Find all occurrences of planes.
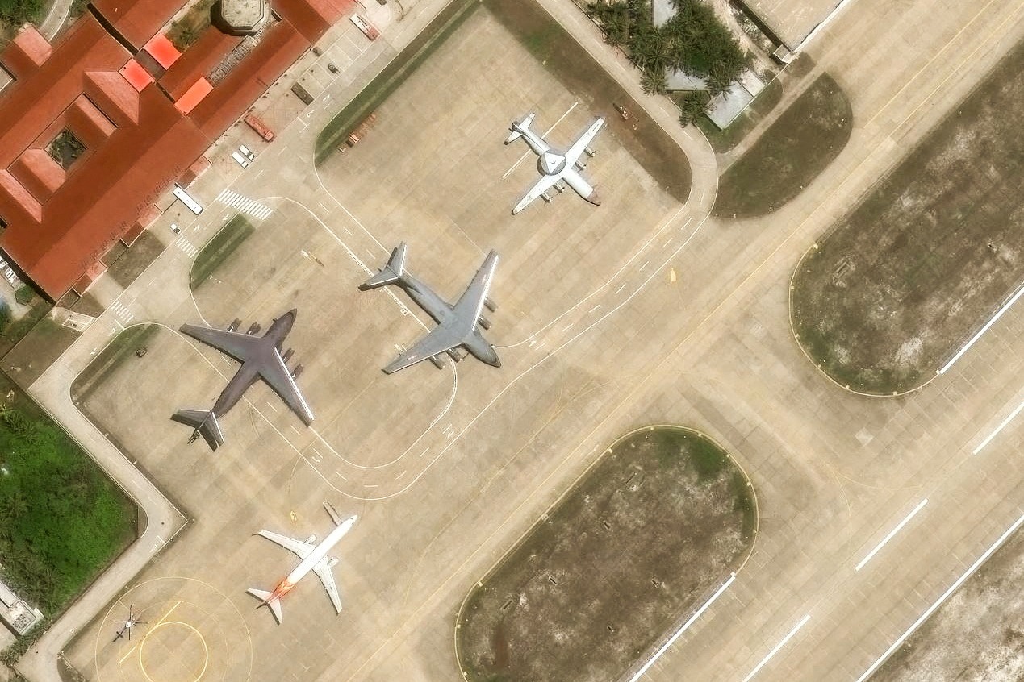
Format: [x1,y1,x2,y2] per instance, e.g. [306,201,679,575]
[365,241,501,375]
[502,111,603,214]
[178,310,313,446]
[247,516,358,623]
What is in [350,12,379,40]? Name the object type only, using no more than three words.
bus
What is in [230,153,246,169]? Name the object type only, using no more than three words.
vehicle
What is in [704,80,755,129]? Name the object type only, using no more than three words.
shed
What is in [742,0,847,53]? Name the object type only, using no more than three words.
building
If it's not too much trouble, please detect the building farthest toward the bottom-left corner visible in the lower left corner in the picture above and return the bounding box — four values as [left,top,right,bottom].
[0,579,45,635]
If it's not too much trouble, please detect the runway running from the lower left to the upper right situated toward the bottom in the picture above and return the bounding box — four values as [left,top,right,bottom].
[614,284,1024,682]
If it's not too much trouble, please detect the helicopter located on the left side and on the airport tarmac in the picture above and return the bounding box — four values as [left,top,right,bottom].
[112,605,148,642]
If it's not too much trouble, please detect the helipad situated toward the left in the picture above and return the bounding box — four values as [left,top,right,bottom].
[96,578,251,682]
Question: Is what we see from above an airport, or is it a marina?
airport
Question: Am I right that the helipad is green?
No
